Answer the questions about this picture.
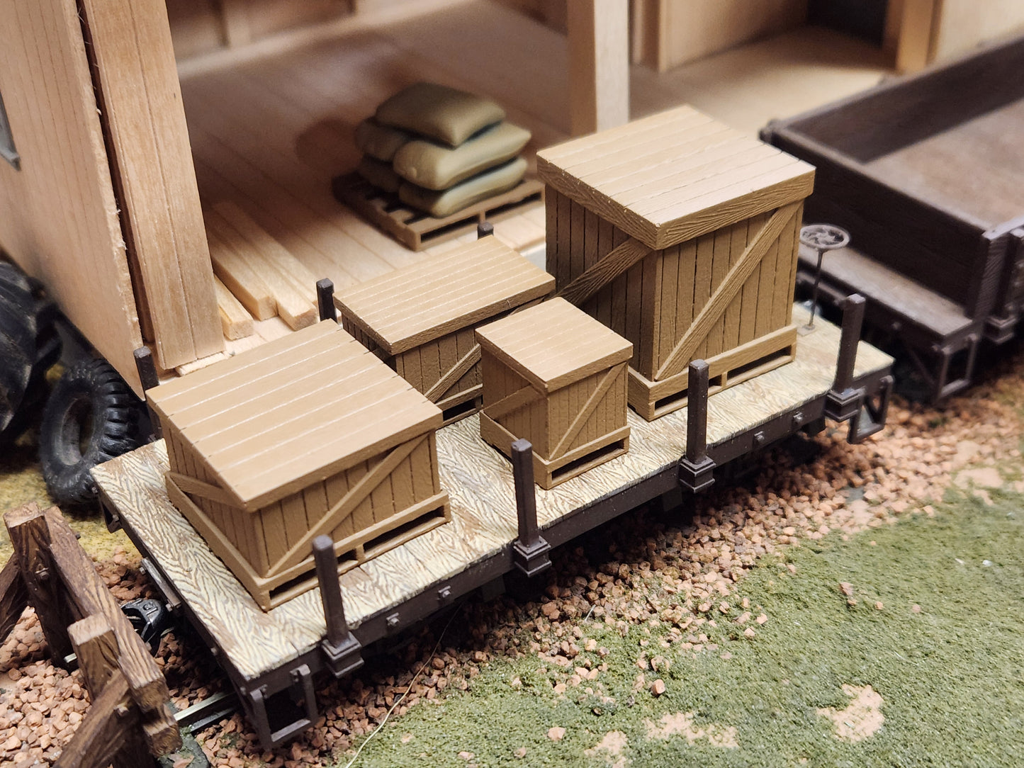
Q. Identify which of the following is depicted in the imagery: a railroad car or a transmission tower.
railroad car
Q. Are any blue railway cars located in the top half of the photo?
No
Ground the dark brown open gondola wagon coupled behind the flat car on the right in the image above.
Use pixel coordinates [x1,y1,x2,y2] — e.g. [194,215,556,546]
[753,26,1024,398]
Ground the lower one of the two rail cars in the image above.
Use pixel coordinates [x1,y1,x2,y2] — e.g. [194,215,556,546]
[91,224,897,753]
